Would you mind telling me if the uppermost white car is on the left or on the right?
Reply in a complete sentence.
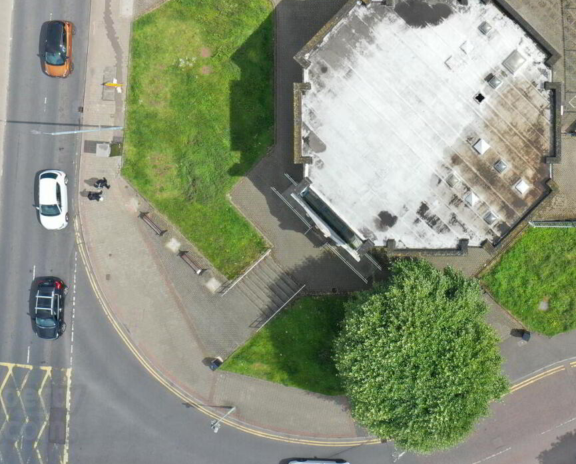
It is on the left.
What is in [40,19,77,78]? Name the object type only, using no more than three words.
car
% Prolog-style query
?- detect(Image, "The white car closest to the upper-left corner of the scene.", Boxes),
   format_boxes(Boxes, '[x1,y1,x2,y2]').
[36,170,72,230]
